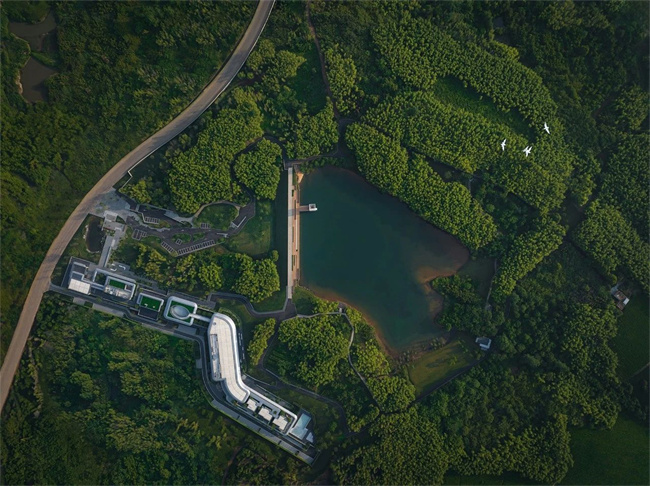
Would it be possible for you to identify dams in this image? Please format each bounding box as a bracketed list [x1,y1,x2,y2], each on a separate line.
[286,162,300,291]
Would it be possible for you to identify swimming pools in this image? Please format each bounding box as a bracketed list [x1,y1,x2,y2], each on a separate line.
[289,409,316,443]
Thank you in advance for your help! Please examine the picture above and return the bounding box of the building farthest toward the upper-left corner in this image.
[102,211,127,241]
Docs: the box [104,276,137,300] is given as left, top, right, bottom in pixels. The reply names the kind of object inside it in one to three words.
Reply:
building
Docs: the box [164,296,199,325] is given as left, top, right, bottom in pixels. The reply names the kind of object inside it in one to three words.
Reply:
building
